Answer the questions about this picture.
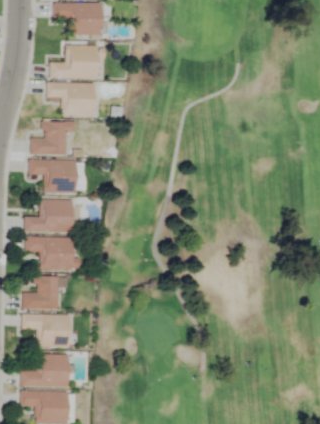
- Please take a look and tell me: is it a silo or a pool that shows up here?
pool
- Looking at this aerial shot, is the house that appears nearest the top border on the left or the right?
left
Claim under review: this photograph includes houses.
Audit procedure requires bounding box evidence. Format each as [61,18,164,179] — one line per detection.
[22,278,68,310]
[24,236,80,273]
[30,122,75,154]
[20,354,69,388]
[48,45,100,80]
[28,160,76,192]
[46,83,98,117]
[20,392,70,424]
[52,2,103,35]
[20,314,72,350]
[24,200,73,232]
